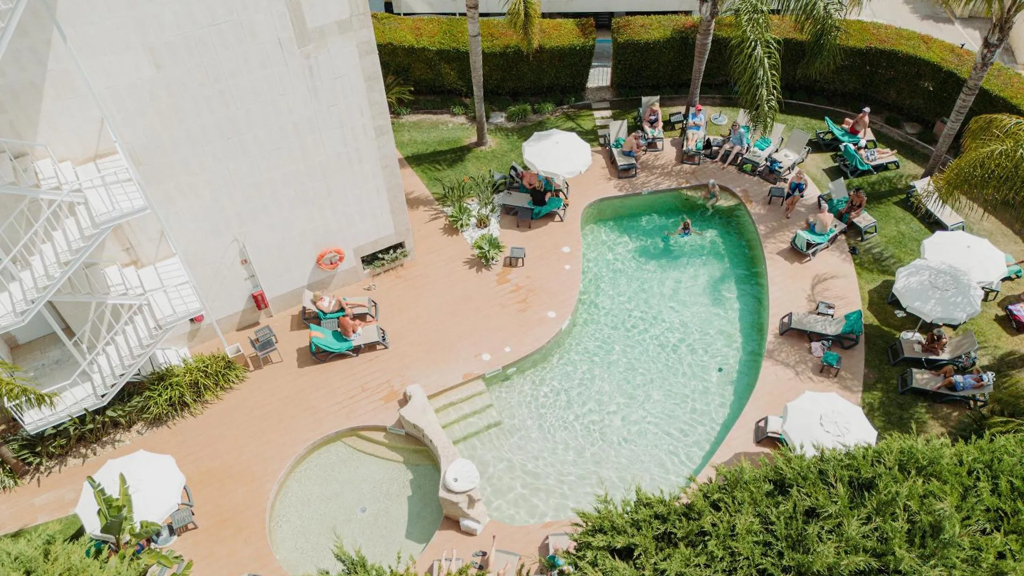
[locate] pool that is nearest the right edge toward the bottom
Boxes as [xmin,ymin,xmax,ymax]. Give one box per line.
[428,182,772,529]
